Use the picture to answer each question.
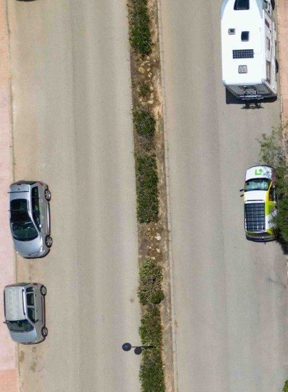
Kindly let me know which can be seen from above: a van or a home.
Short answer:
van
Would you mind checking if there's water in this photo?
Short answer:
No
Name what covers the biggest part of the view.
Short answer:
paved ground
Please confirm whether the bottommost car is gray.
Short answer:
Yes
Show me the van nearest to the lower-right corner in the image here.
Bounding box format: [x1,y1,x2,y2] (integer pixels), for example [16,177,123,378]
[241,167,280,242]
